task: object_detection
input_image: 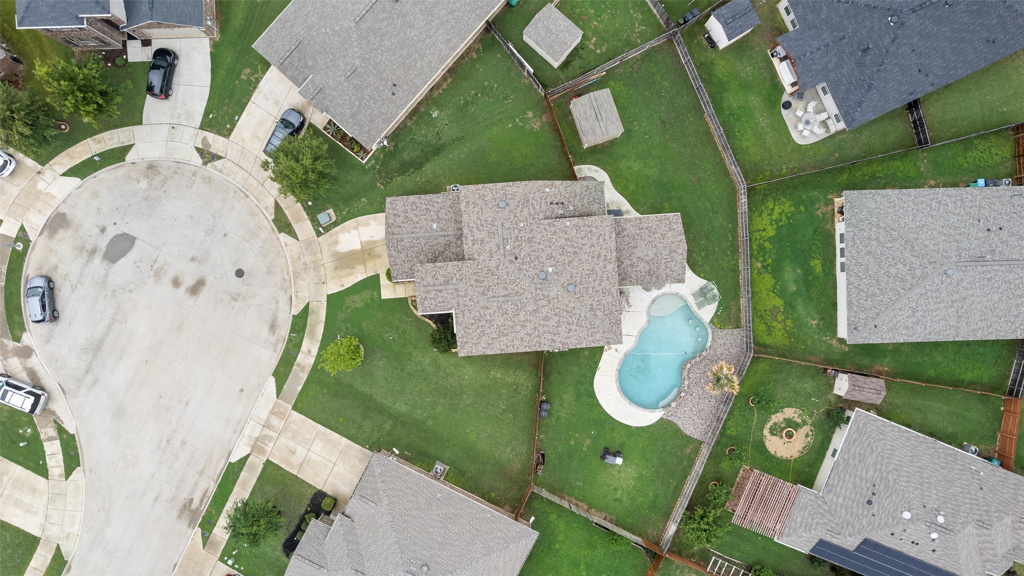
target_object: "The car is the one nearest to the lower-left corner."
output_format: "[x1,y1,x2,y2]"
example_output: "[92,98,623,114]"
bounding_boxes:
[0,374,45,412]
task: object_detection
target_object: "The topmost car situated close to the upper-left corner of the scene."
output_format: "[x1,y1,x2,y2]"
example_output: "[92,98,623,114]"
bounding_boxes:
[145,48,177,99]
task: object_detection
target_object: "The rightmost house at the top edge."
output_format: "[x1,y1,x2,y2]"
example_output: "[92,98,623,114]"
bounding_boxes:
[772,0,1024,132]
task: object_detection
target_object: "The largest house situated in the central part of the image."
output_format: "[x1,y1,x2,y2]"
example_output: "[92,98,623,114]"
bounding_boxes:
[385,180,687,356]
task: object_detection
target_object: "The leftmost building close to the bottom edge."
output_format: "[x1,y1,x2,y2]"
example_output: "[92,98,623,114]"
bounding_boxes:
[283,447,540,576]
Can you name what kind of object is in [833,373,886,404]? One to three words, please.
shed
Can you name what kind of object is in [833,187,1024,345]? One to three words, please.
house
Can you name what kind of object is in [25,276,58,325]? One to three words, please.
car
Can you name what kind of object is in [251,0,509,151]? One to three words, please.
house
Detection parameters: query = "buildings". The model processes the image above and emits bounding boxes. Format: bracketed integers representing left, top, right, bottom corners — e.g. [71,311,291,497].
[15,0,217,49]
[705,0,760,49]
[833,373,886,404]
[833,187,1024,345]
[523,3,583,68]
[385,180,687,356]
[771,407,1024,576]
[283,447,540,576]
[571,89,624,147]
[772,0,1024,132]
[251,0,509,151]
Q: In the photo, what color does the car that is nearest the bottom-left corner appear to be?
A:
white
